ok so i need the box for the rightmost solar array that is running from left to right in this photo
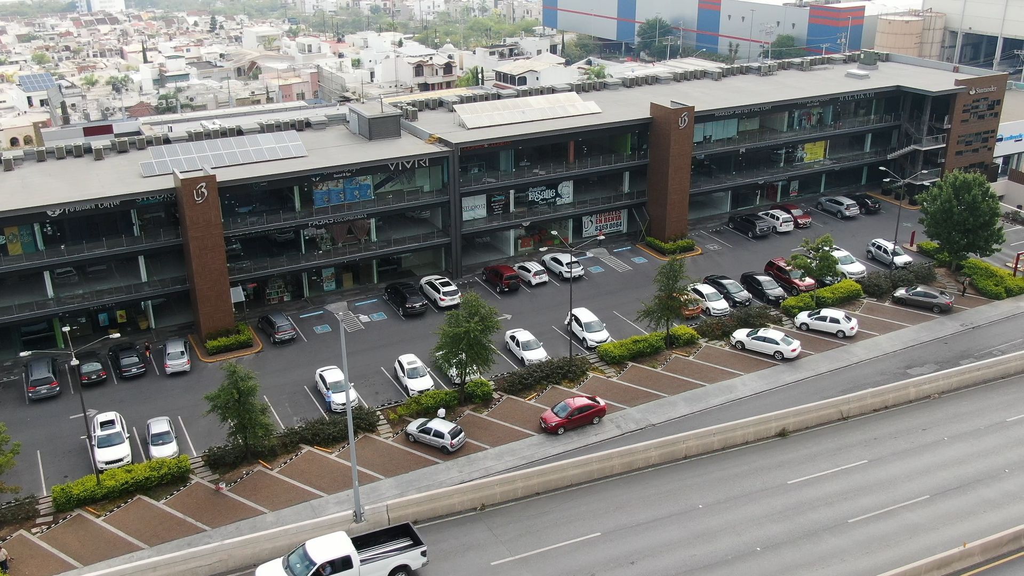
[434,92,602,131]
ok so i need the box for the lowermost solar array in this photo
[142,128,308,178]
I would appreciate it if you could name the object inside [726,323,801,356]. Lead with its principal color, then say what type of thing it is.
white car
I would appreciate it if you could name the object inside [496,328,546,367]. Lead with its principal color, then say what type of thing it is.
white car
